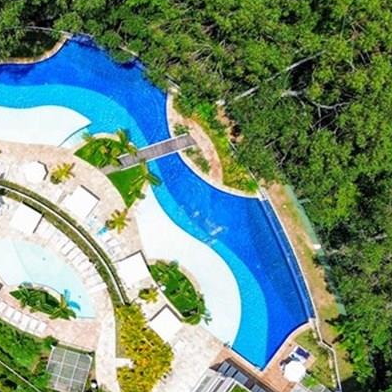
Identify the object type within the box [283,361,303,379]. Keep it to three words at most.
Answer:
umbrella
